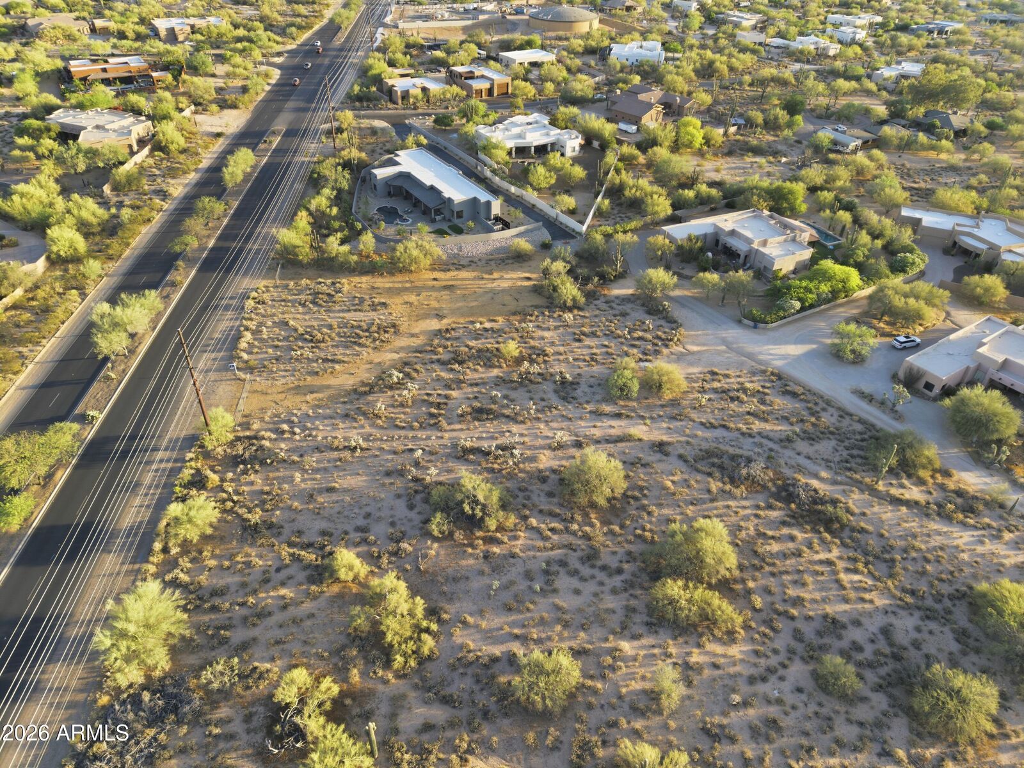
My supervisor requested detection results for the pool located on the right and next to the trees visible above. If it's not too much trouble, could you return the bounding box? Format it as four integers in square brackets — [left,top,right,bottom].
[800,219,842,246]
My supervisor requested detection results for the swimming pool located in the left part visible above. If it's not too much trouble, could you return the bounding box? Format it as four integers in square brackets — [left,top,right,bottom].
[375,205,411,224]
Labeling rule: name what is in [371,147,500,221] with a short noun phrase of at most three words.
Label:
house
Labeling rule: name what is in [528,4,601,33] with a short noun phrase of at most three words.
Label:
water tank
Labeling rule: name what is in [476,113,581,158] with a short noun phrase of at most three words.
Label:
house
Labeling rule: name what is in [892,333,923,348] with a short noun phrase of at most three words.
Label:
car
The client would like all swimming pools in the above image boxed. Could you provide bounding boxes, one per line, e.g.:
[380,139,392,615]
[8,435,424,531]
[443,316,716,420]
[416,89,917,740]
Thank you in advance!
[800,219,842,246]
[375,205,411,224]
